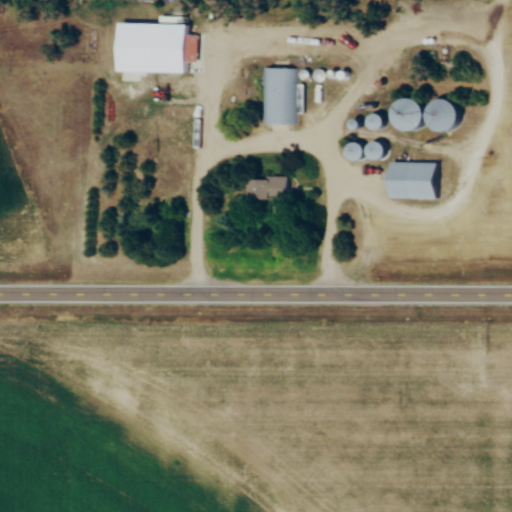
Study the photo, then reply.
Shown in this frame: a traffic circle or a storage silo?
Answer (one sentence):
I can see a storage silo in this picture.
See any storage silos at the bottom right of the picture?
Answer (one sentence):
No, I can find no storage silo at the bottom right of the picture.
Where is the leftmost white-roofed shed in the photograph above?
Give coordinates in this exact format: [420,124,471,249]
[113,22,190,74]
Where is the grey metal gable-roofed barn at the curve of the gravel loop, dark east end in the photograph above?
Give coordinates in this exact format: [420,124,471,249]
[385,162,440,200]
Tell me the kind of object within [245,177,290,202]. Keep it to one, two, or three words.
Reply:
house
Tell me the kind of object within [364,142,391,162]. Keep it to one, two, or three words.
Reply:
silo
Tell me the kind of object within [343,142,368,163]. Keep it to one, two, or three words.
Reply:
silo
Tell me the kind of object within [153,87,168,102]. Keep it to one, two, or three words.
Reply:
work vehicle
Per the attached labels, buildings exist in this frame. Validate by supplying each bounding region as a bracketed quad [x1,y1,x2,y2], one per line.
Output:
[264,68,301,124]
[385,162,440,200]
[113,22,190,74]
[245,177,290,202]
